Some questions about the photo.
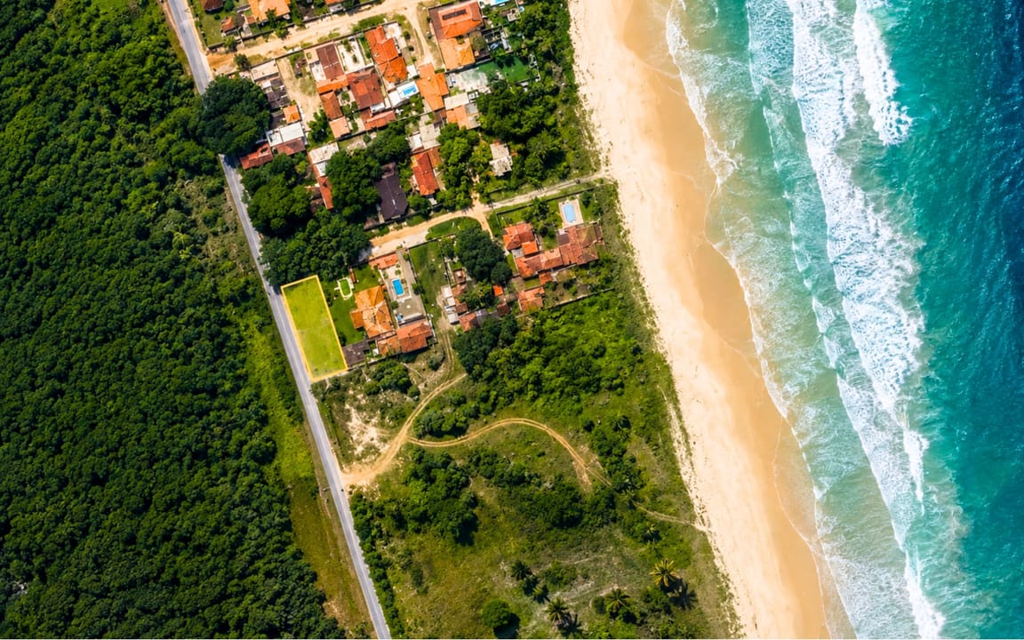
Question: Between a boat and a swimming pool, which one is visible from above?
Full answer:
Looking from above, you can make out a swimming pool.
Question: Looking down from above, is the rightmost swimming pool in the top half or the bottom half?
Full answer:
Seen from above, the rightmost swimming pool lies in the top half of the view.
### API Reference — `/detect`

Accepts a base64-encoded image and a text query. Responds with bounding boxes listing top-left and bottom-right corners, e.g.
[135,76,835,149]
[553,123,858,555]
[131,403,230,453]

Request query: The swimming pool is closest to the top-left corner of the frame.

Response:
[389,82,419,107]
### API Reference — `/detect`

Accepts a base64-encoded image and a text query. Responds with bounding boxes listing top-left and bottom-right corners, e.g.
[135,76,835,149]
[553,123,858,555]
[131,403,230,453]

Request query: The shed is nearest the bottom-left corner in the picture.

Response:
[342,340,370,366]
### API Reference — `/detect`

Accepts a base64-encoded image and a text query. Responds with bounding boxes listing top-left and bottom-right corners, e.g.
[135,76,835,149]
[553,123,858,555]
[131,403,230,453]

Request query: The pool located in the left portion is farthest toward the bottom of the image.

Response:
[389,274,410,301]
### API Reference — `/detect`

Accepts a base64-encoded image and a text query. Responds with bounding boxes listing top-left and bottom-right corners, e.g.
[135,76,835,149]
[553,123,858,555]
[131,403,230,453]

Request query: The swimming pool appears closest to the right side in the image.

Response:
[559,199,583,227]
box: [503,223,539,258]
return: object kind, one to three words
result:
house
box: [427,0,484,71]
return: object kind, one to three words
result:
house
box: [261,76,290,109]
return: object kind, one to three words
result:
building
